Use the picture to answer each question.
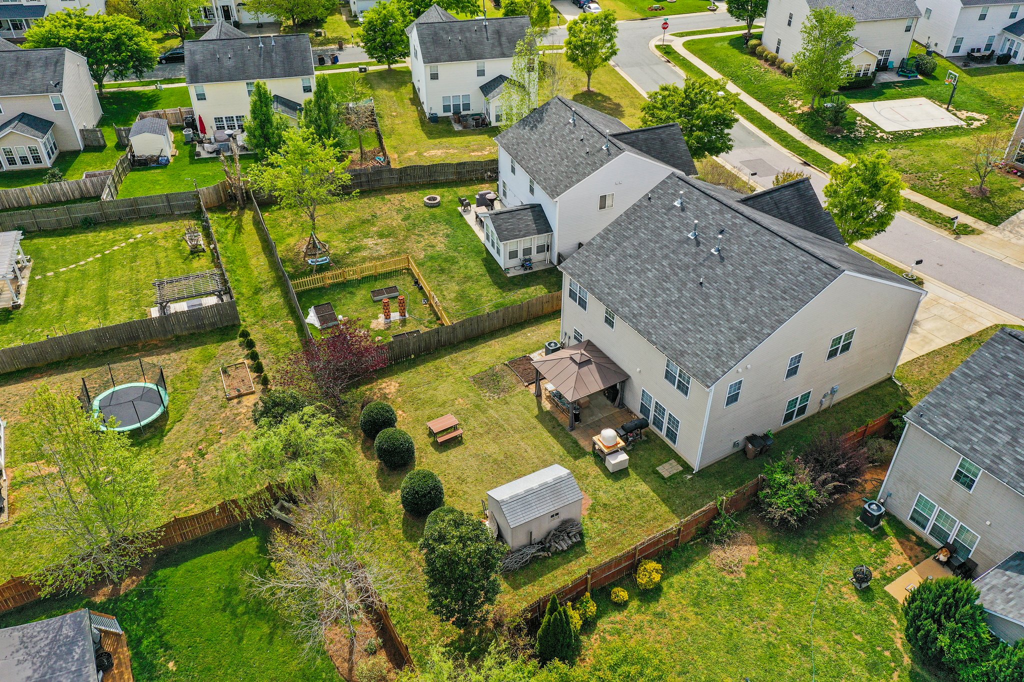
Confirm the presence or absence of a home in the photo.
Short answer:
Yes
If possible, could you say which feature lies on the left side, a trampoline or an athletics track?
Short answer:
trampoline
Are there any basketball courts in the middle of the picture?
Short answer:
No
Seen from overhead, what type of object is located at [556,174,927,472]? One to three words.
house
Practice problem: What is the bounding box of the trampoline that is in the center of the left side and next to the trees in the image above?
[74,360,172,444]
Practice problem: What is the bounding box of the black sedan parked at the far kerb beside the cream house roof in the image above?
[157,47,187,64]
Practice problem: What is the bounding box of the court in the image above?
[851,96,971,131]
